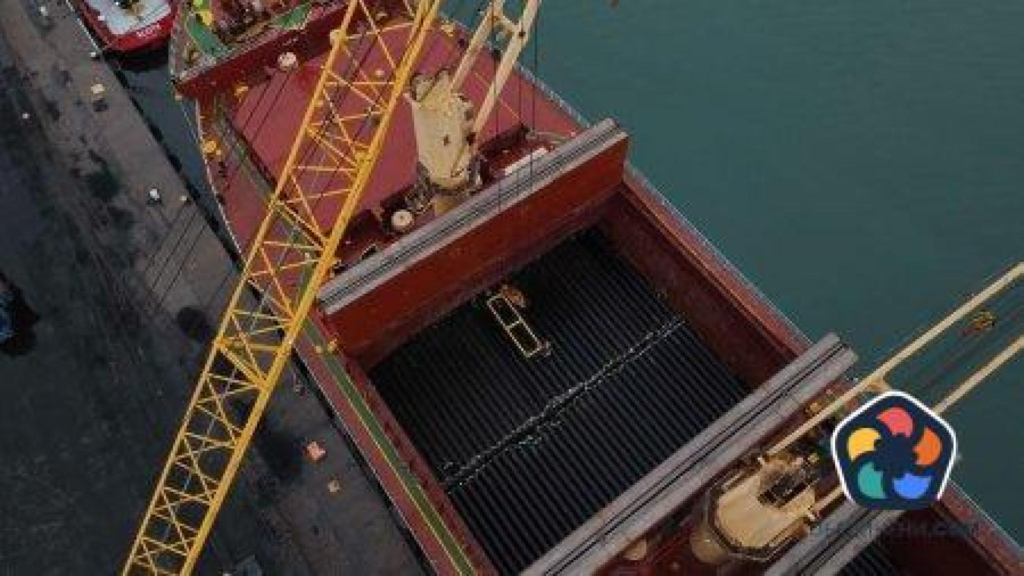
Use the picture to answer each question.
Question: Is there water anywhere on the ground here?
Yes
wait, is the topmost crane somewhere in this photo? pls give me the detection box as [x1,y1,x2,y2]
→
[401,0,548,218]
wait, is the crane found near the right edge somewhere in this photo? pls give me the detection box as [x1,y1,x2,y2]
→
[681,259,1024,564]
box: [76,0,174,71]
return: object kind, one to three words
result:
boat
